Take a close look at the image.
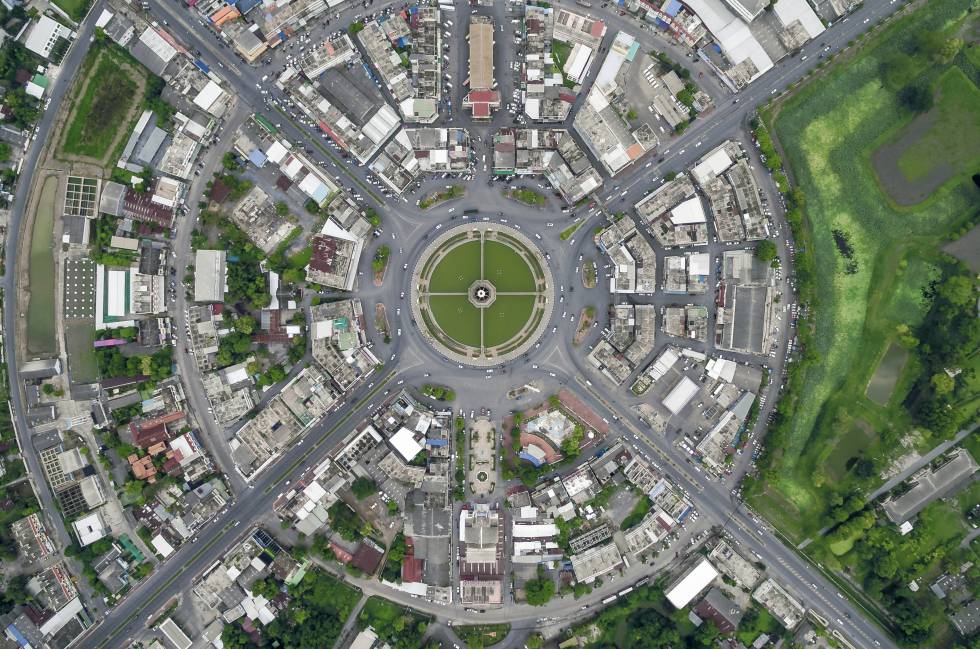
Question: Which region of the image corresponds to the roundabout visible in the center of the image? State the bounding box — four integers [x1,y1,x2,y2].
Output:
[411,222,553,366]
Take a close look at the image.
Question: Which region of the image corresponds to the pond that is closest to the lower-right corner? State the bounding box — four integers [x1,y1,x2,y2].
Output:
[823,420,879,483]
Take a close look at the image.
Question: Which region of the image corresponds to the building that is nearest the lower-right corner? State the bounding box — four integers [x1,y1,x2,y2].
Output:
[949,598,980,636]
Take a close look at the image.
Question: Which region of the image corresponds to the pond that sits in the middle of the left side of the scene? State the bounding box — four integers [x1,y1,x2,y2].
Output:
[65,317,101,385]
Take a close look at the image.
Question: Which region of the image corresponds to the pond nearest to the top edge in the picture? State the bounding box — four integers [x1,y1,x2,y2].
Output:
[875,110,952,204]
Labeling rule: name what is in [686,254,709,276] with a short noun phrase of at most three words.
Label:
shed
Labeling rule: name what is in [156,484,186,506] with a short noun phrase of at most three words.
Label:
building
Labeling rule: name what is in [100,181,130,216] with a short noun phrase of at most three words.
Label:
hangar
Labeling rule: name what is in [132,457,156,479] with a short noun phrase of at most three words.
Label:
house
